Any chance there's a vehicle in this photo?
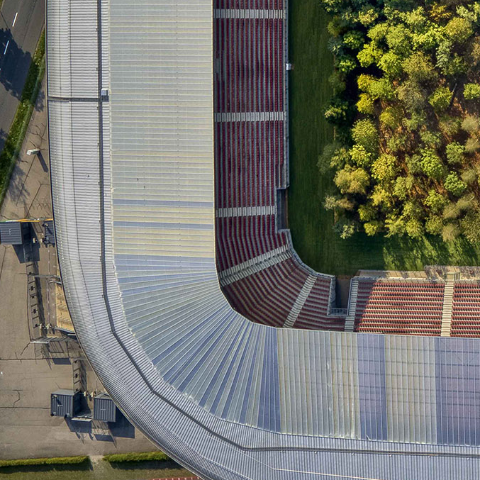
No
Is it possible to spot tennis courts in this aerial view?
No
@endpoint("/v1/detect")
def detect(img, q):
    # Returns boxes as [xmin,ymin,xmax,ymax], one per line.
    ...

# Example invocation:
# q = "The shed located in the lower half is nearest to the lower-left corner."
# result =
[52,391,80,416]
